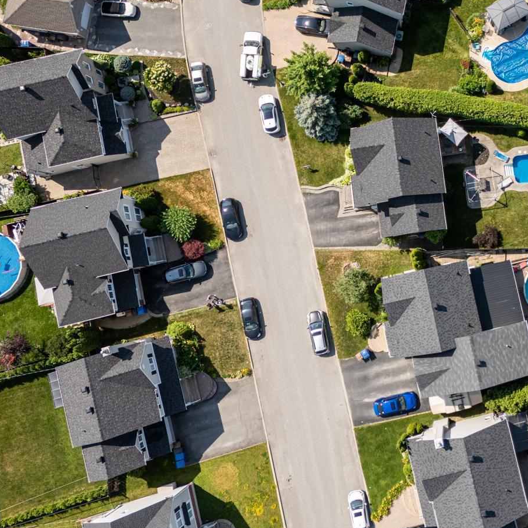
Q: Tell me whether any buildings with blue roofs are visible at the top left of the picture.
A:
No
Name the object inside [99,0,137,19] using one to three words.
car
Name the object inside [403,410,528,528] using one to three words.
house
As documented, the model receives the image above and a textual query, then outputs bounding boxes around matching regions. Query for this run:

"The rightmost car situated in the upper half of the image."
[293,16,329,35]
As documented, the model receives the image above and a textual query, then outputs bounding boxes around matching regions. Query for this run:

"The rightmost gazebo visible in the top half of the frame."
[485,0,528,35]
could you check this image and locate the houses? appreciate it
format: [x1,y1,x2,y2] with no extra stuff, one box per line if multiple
[403,410,528,528]
[370,257,528,399]
[82,471,235,528]
[312,0,407,55]
[343,116,447,239]
[0,50,137,177]
[19,187,170,328]
[48,326,216,483]
[3,0,95,35]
